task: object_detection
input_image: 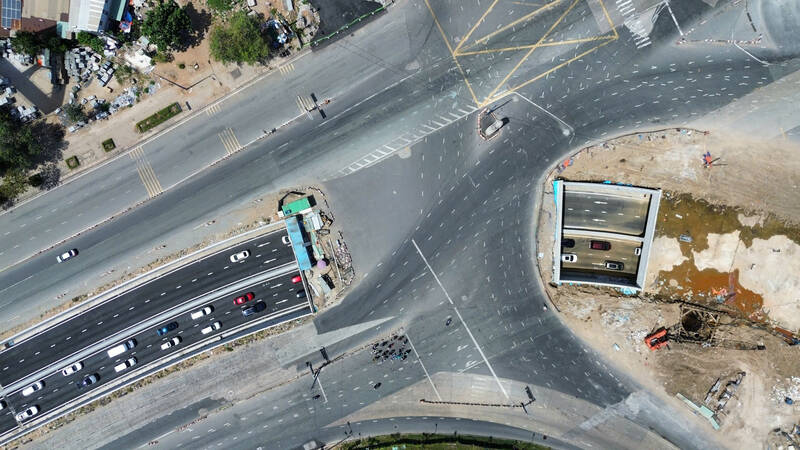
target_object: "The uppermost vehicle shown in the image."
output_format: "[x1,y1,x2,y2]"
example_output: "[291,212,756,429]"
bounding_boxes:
[486,118,505,135]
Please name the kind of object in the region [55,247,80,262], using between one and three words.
car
